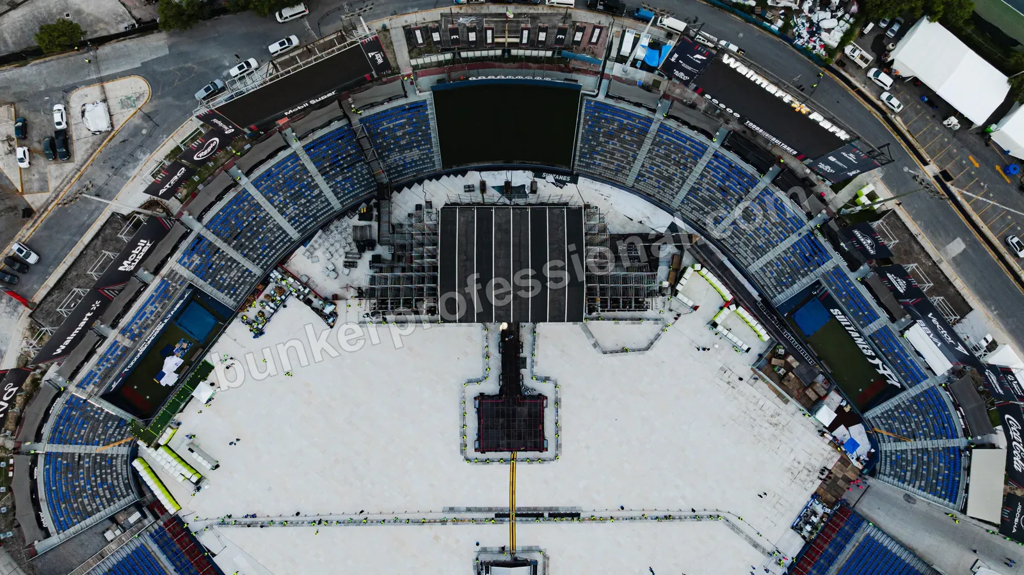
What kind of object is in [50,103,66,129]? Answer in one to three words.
car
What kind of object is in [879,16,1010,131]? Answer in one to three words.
tent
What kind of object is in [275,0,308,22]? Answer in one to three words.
vehicle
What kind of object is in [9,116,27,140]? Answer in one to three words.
car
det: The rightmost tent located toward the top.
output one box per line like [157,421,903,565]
[976,101,1024,158]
